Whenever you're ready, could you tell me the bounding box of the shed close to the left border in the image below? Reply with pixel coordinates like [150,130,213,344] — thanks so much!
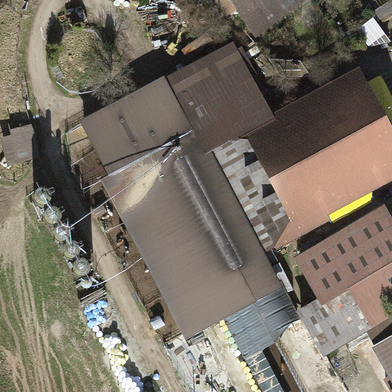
[2,125,33,166]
